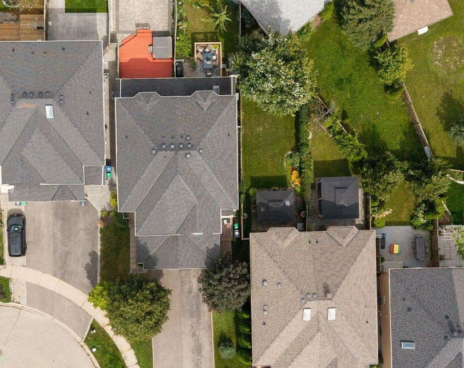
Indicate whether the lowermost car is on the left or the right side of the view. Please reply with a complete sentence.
The lowermost car appears in the left half of the scene.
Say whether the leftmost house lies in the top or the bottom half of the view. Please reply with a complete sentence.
The top half of the photo is where the leftmost house is.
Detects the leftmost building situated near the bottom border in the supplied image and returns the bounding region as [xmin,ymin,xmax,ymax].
[250,226,378,368]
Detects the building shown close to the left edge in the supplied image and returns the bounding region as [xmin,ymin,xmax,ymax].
[0,40,107,201]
